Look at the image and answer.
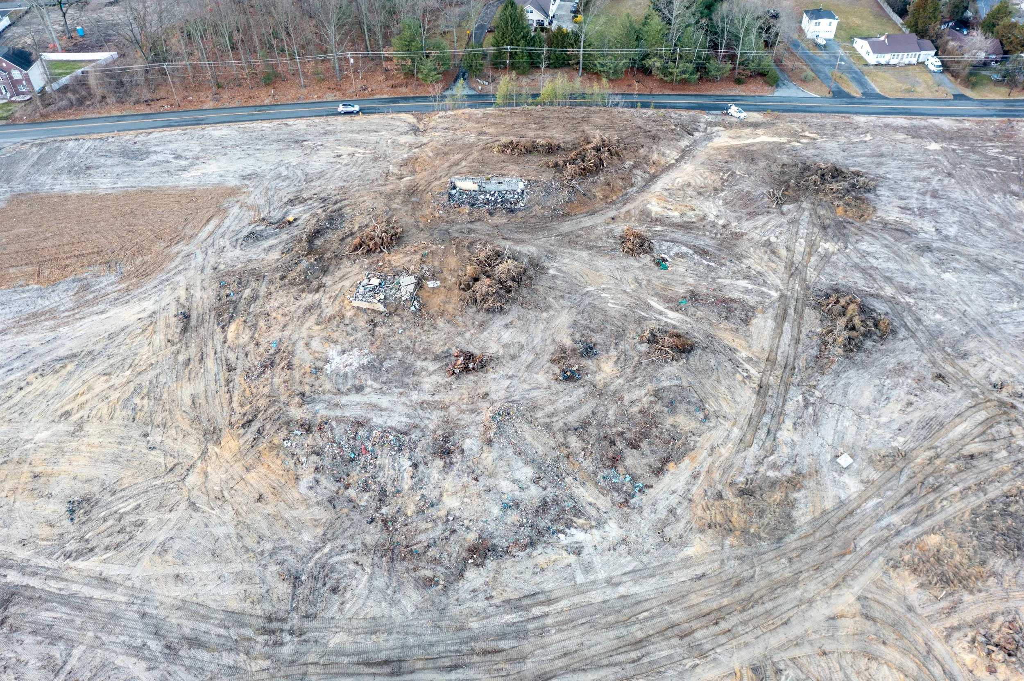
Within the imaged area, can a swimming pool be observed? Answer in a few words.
No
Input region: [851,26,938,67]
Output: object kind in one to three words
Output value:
house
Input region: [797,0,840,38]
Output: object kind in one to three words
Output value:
house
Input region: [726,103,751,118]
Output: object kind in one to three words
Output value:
car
